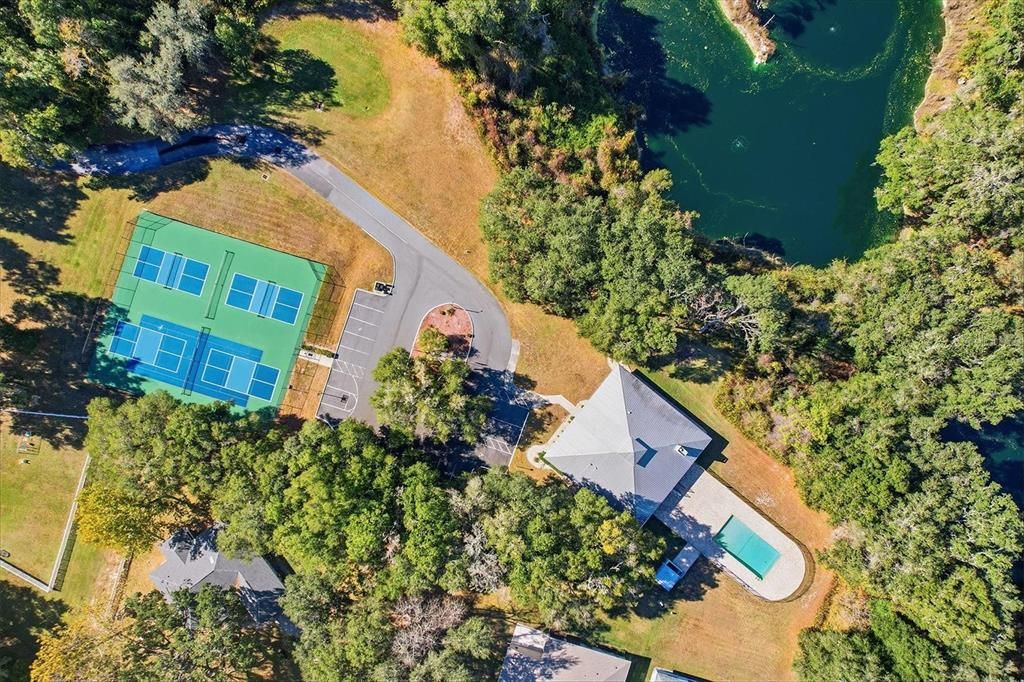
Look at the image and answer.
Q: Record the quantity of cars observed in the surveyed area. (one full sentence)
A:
Not a single car can be seen.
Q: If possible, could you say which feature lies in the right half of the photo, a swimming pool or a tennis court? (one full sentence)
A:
What appears in the right half of the photo is a swimming pool.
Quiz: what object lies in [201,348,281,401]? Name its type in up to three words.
sports court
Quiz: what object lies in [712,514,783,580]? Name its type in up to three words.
swimming pool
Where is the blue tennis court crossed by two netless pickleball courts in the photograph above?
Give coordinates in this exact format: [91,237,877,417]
[127,314,263,406]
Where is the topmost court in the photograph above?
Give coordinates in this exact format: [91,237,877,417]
[133,245,209,296]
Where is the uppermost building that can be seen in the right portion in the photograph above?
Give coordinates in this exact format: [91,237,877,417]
[545,364,713,526]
